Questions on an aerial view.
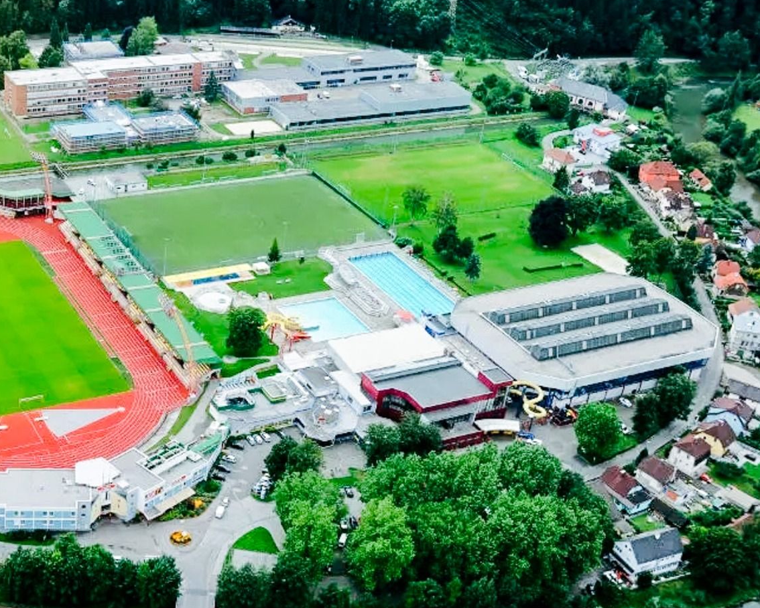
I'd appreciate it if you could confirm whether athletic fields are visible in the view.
Yes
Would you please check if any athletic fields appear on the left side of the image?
Yes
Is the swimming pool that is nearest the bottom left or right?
left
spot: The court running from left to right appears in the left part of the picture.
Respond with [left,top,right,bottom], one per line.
[223,120,281,135]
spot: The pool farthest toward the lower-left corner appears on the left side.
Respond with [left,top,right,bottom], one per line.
[212,388,255,416]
